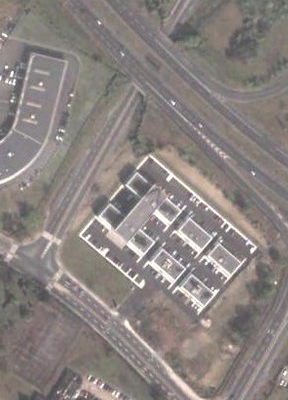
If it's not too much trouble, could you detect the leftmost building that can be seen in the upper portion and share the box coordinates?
[0,54,68,183]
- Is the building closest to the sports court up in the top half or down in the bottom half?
bottom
